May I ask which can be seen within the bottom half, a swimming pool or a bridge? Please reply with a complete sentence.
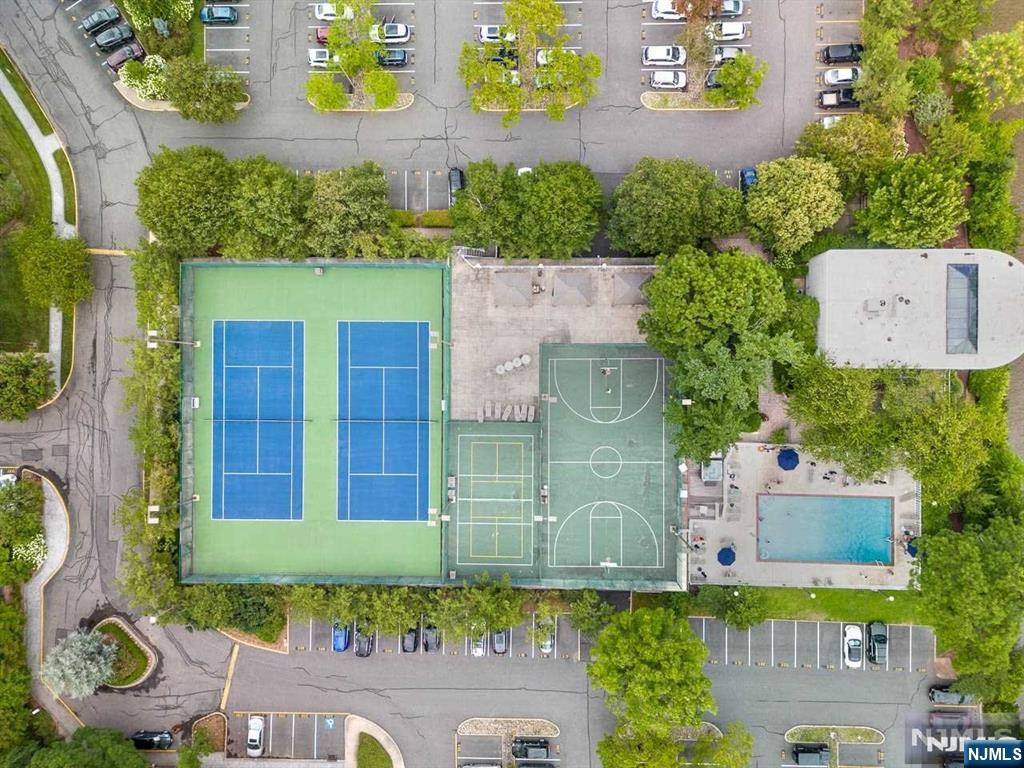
The one visible within the bottom half is a swimming pool.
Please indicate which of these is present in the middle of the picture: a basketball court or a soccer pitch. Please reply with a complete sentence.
Looking in the middle of the picture, you will find a basketball court.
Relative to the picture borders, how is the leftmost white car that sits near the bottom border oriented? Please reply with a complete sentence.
In this picture, the leftmost white car that sits near the bottom border lies vertically.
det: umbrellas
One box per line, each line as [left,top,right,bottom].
[775,448,797,469]
[898,540,920,558]
[716,546,734,565]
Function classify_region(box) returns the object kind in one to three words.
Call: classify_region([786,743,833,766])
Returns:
truck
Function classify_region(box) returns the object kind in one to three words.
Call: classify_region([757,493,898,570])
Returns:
swimming pool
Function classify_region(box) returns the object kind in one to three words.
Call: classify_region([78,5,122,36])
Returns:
car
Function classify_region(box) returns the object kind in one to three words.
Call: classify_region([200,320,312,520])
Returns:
tennis court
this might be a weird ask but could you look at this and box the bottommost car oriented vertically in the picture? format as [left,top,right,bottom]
[246,713,266,754]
